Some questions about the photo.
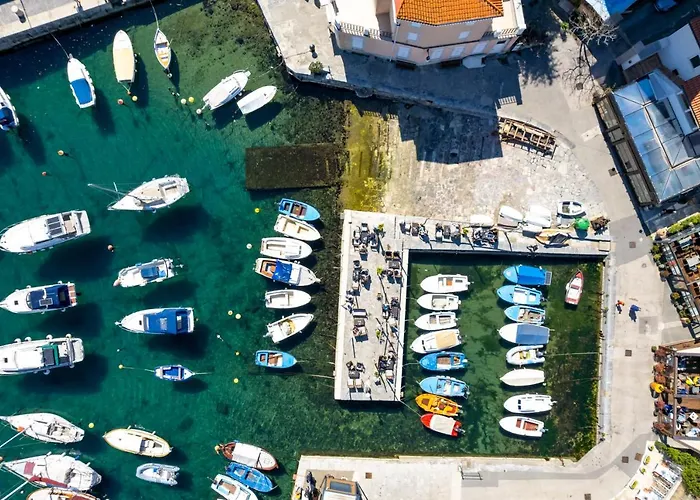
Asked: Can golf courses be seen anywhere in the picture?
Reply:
No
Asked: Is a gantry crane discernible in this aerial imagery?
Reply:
No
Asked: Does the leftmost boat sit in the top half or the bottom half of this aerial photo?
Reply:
top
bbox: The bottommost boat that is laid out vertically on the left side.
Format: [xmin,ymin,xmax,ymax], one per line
[0,85,24,135]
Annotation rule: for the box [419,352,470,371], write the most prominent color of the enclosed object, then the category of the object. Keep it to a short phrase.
blue boat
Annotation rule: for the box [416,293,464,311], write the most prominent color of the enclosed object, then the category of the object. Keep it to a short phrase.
white boat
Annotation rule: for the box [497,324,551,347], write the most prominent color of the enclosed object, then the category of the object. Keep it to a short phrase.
blue boat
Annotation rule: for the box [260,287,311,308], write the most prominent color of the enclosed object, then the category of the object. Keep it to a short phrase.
white boat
